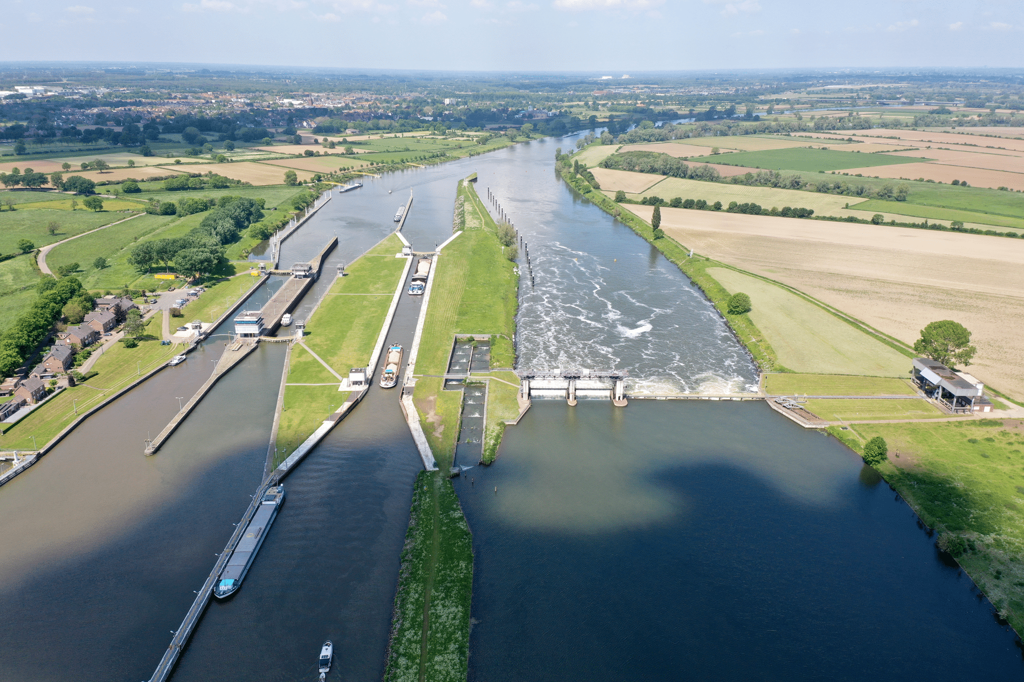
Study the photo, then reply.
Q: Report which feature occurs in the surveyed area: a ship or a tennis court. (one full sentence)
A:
This aerial view contains a ship.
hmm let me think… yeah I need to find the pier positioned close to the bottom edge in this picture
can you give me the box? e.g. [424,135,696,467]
[141,478,272,682]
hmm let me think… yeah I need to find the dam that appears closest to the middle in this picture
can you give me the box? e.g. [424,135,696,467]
[516,370,629,404]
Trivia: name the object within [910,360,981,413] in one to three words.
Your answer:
building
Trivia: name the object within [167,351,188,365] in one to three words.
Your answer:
boat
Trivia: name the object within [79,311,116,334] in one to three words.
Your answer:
house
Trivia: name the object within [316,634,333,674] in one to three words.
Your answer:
boat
